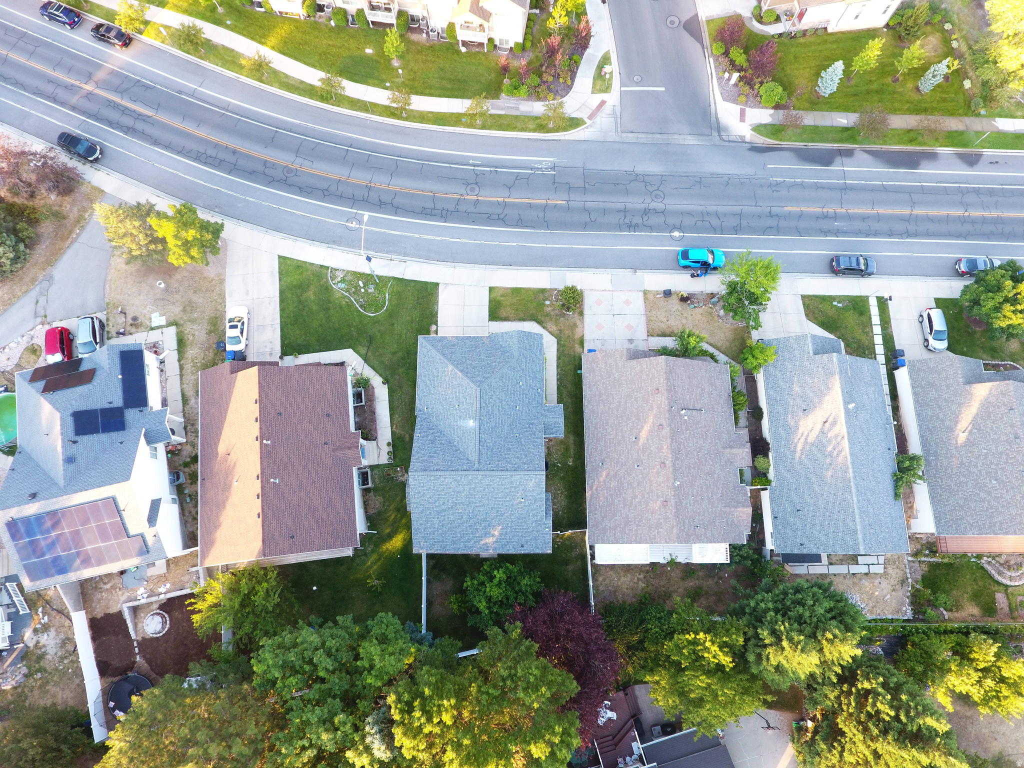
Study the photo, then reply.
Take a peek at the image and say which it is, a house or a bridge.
house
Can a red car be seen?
Yes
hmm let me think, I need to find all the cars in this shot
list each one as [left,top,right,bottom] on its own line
[53,129,108,164]
[78,314,103,356]
[37,1,87,30]
[952,254,1000,276]
[918,307,949,352]
[225,306,249,355]
[48,324,72,362]
[89,24,136,52]
[677,247,724,276]
[828,254,876,277]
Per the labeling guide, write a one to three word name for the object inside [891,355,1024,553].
house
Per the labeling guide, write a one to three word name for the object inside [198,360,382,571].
house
